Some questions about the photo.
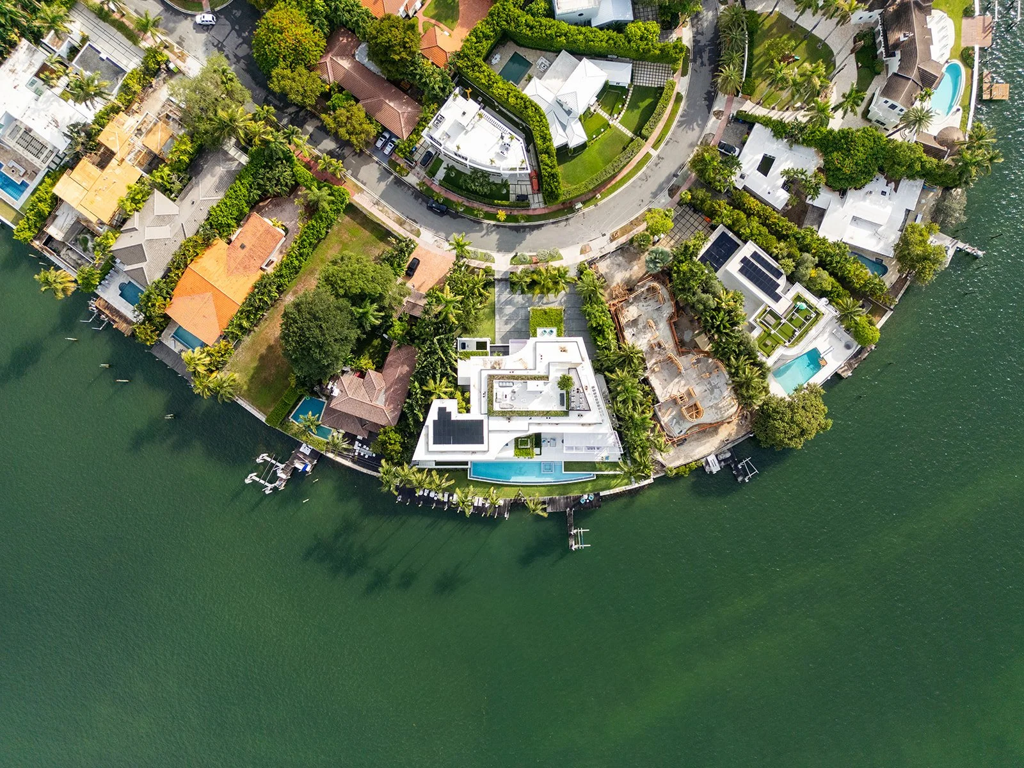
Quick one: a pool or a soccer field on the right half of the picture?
pool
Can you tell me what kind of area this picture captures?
residential area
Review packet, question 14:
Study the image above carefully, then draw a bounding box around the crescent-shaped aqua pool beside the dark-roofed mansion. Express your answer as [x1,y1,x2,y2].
[930,61,964,118]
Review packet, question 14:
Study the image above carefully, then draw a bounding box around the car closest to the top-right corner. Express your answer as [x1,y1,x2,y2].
[718,140,740,156]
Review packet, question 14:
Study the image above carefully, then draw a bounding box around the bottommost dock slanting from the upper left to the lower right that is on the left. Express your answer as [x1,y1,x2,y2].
[147,341,195,386]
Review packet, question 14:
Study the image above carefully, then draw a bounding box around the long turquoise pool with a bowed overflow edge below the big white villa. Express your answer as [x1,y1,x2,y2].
[468,461,595,485]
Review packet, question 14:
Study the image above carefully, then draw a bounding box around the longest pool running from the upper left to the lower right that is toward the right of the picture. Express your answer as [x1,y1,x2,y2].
[843,248,890,280]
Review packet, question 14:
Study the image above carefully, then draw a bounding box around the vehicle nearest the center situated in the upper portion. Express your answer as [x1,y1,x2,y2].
[405,256,423,278]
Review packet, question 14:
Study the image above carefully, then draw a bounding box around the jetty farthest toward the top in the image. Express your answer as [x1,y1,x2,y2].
[961,15,993,51]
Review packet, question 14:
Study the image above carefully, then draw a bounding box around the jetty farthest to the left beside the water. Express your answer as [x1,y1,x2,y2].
[95,297,133,336]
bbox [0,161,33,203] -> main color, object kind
blue swimming pool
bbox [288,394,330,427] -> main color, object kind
blue swimming pool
